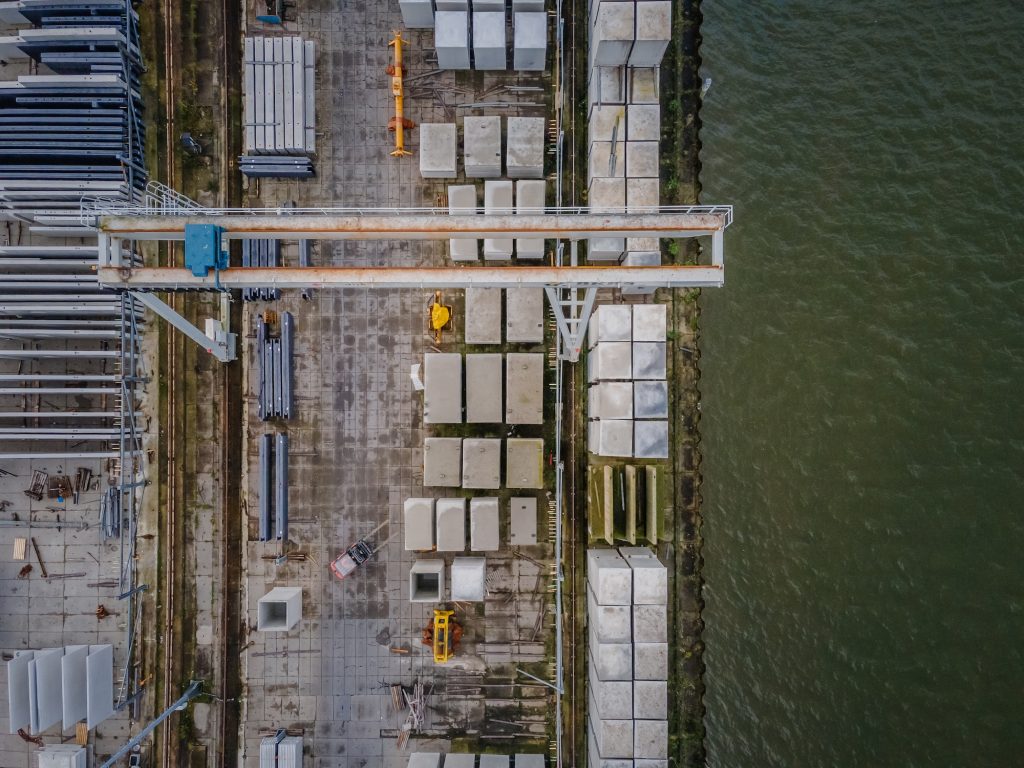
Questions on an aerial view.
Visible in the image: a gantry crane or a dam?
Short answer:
gantry crane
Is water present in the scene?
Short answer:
Yes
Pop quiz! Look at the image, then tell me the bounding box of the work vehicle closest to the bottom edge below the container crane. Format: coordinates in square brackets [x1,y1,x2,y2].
[328,518,399,584]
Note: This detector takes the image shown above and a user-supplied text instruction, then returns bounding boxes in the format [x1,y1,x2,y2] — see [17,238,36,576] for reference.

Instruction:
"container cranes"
[76,179,734,362]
